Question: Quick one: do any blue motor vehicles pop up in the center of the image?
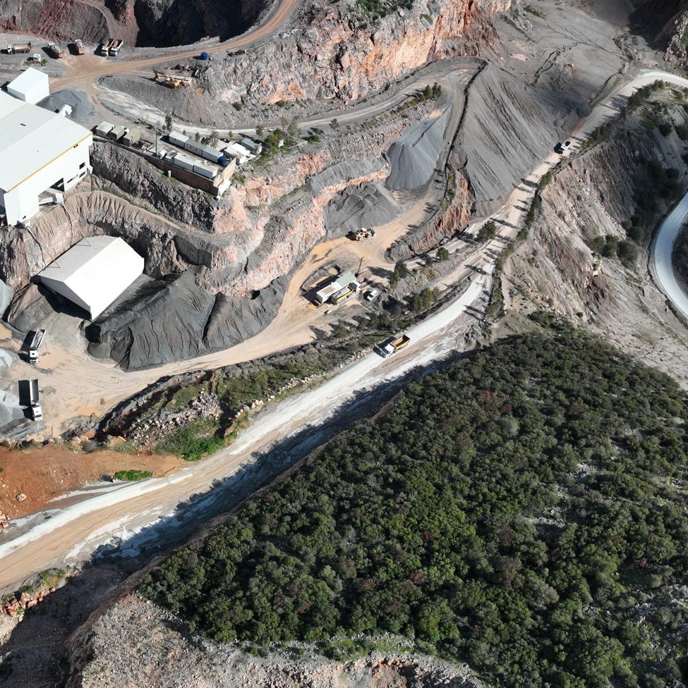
No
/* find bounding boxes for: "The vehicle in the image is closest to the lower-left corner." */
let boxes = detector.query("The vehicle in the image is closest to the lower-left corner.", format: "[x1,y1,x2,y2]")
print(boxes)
[30,380,45,422]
